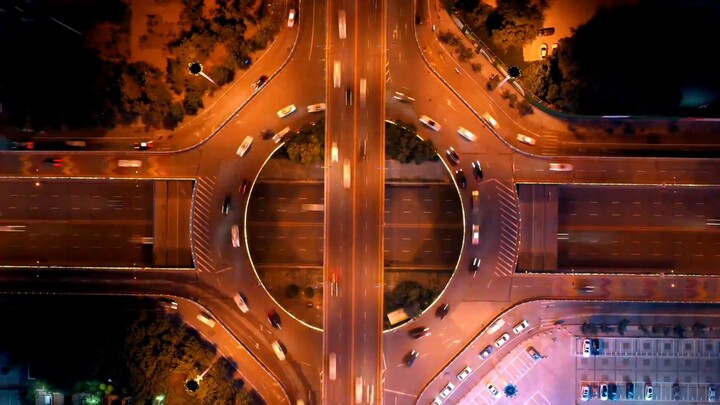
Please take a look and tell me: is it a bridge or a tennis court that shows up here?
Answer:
bridge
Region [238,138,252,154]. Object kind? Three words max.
car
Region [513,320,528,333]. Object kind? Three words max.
vehicle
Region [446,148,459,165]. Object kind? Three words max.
vehicle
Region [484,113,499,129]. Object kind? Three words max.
car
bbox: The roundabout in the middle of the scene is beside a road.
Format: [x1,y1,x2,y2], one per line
[191,5,543,405]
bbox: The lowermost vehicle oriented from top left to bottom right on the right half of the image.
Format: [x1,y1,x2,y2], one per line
[487,382,501,397]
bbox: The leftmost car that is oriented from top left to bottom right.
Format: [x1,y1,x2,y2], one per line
[199,314,215,327]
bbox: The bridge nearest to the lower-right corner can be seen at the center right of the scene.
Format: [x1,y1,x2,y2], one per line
[512,184,560,274]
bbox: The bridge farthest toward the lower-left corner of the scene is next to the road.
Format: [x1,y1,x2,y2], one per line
[153,179,198,269]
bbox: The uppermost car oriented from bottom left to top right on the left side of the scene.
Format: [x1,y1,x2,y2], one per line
[254,74,269,89]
